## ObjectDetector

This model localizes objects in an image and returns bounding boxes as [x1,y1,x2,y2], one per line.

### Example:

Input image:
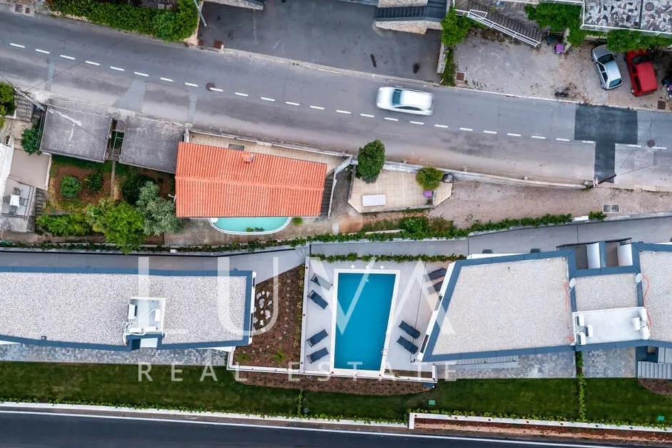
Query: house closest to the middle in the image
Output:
[175,142,327,218]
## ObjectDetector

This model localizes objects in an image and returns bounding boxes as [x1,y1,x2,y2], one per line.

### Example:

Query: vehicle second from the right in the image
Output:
[592,44,629,92]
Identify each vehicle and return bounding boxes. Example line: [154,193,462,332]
[377,83,435,114]
[627,47,662,98]
[592,44,629,92]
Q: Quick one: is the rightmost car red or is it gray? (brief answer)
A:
red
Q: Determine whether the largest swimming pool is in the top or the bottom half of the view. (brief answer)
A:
bottom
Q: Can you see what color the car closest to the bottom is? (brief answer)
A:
white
